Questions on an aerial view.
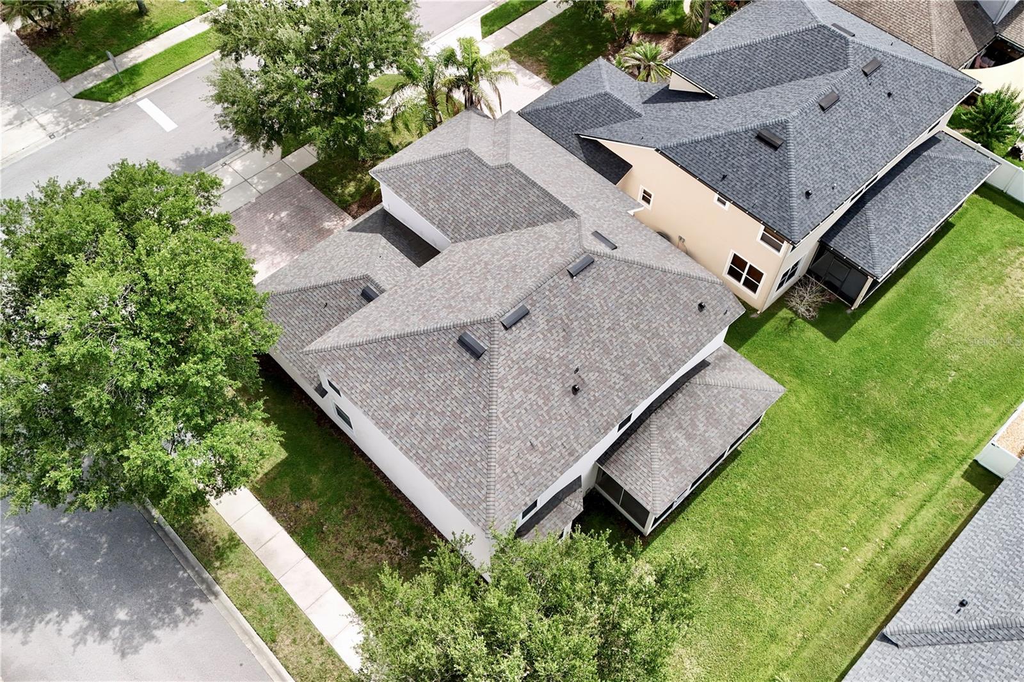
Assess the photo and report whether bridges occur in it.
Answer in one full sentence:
No, no bridge can be seen from above.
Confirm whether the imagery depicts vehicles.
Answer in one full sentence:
No, this view has no vehicle in it.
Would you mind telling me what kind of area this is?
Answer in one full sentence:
What you see here is a residential area.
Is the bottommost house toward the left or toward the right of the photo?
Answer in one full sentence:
The bottommost house is on the right side of the image.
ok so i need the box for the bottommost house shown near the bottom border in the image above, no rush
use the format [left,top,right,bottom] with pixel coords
[834,461,1024,682]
